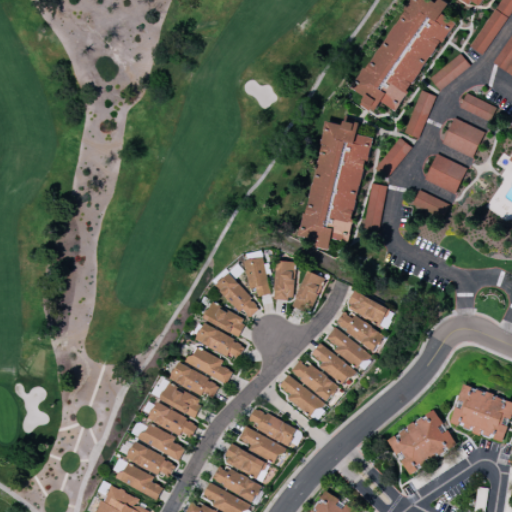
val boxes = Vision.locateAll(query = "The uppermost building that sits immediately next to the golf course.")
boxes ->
[352,0,455,112]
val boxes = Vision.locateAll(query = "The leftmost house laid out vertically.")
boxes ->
[245,250,272,298]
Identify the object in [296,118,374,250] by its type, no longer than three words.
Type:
building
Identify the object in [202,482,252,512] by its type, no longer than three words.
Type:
house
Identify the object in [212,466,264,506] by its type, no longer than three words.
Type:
house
